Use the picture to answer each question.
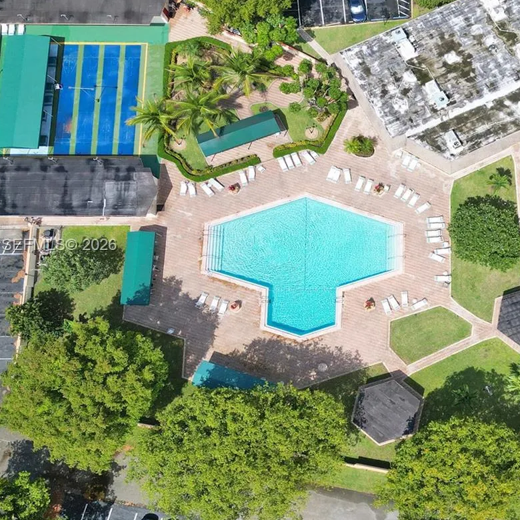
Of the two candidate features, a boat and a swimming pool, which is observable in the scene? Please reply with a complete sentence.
There is a swimming pool in the scene.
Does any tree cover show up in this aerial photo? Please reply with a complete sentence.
Yes, the picture does contain tree cover.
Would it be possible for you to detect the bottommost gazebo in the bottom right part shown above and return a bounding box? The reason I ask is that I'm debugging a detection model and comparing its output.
[353,377,423,446]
